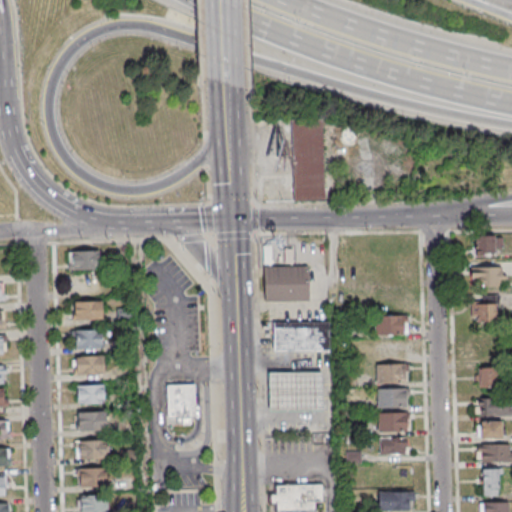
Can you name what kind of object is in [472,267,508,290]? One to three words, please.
house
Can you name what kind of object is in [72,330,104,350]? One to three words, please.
house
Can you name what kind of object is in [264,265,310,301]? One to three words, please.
building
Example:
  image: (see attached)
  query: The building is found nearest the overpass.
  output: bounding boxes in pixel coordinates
[293,118,325,201]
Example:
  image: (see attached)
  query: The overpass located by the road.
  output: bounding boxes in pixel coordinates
[198,0,252,123]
